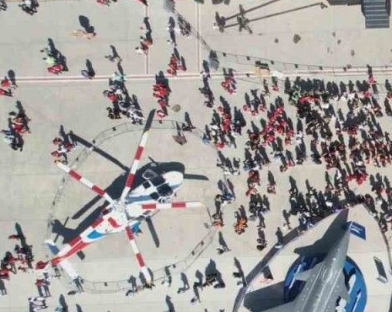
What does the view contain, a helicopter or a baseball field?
helicopter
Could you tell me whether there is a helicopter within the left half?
Yes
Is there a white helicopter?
Yes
